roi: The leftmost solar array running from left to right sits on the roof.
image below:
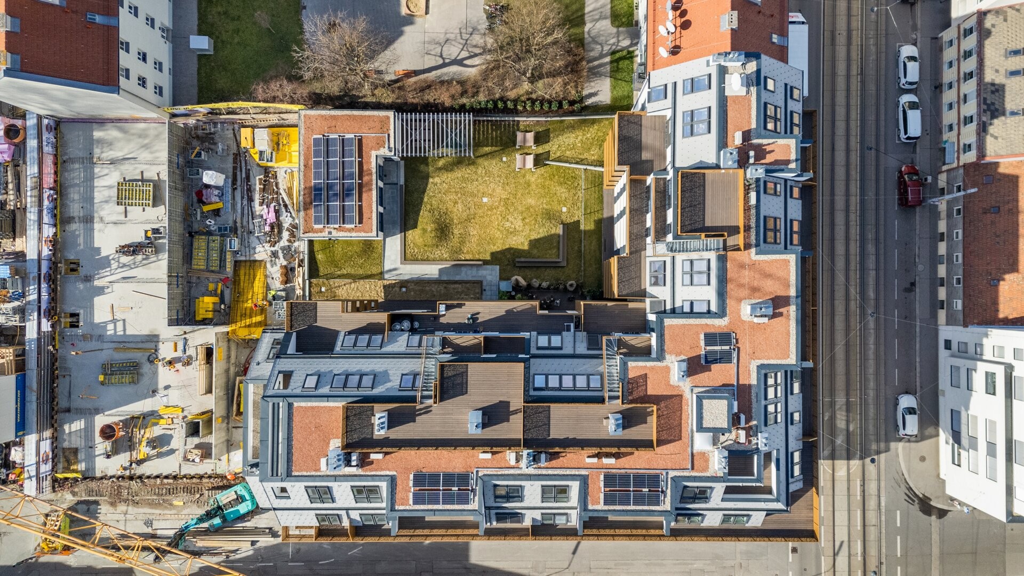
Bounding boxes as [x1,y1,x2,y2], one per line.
[408,472,476,505]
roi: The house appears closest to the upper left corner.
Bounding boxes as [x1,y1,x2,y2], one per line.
[0,0,173,120]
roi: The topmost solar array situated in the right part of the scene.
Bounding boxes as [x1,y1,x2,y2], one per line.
[698,332,736,364]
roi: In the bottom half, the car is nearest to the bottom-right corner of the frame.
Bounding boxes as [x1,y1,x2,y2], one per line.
[891,393,918,437]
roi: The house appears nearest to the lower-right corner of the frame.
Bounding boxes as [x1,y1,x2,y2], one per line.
[936,327,1024,522]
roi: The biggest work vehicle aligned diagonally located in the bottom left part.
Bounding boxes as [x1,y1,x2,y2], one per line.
[159,479,257,564]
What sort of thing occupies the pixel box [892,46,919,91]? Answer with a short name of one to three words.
car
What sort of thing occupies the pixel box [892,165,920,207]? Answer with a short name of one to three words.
car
